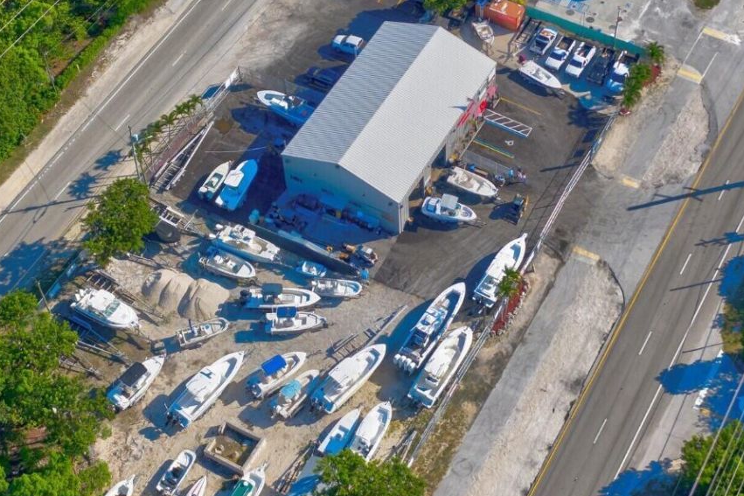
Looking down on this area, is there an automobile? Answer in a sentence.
Yes, looking at the shot, I can spot an automobile.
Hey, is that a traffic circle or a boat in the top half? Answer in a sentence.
It is a boat that can be seen in the top half.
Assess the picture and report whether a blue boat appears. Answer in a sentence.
Yes, looking at the shot, I can spot a blue boat.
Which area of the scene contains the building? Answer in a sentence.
You can find the building in the top area of the picture.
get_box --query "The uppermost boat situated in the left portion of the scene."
[256,94,310,131]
